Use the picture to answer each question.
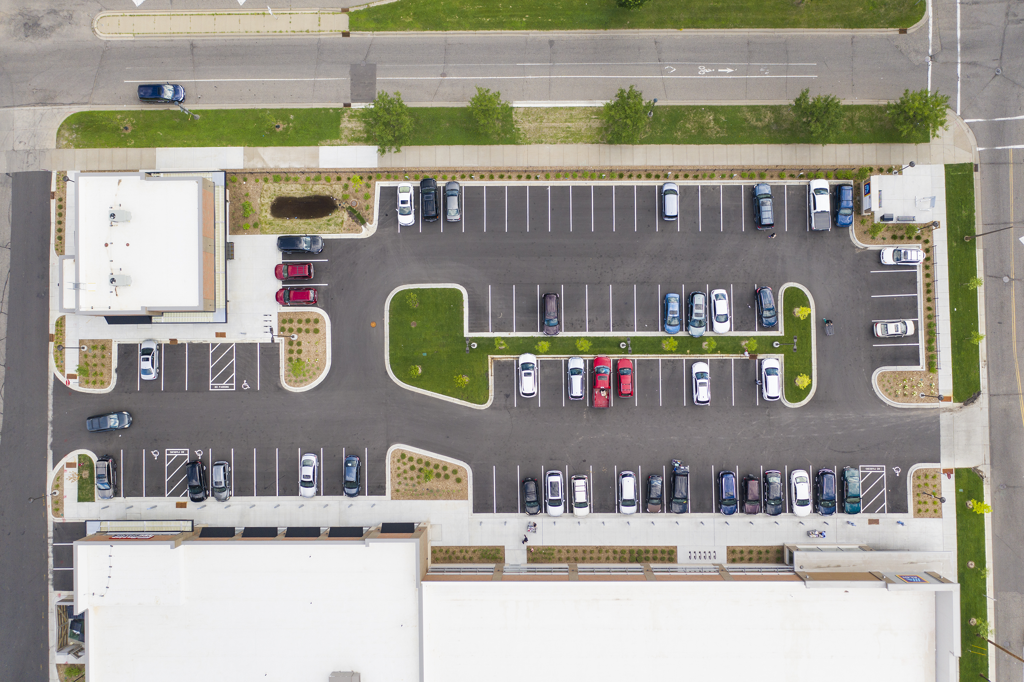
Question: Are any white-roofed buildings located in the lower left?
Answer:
Yes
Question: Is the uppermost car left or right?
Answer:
left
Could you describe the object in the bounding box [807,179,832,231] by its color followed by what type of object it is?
white truck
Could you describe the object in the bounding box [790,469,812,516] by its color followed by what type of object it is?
white car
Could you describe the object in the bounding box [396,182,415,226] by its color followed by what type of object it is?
white car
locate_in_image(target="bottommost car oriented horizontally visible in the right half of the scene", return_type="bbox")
[872,318,914,339]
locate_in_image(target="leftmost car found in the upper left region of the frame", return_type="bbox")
[137,83,187,105]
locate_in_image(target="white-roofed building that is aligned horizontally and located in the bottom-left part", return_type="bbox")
[77,520,432,682]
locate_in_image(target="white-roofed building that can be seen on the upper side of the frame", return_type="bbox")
[59,171,228,324]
